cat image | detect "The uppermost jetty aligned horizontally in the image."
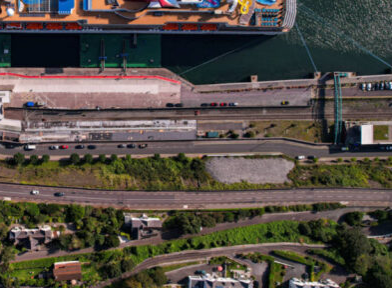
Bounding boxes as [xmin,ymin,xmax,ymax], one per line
[79,35,162,67]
